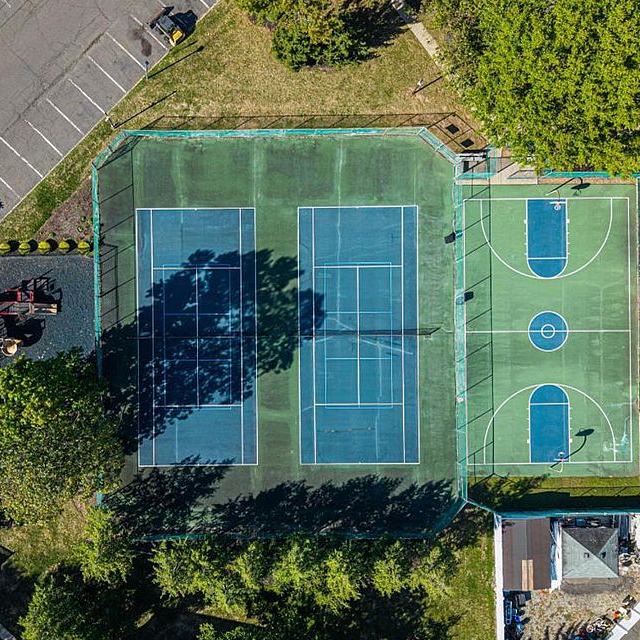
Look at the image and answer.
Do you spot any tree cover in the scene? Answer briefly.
Yes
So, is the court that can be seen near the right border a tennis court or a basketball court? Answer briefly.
basketball court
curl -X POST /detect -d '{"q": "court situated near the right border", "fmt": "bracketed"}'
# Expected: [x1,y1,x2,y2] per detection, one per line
[457,182,639,478]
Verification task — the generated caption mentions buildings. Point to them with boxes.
[552,524,620,588]
[495,512,549,592]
